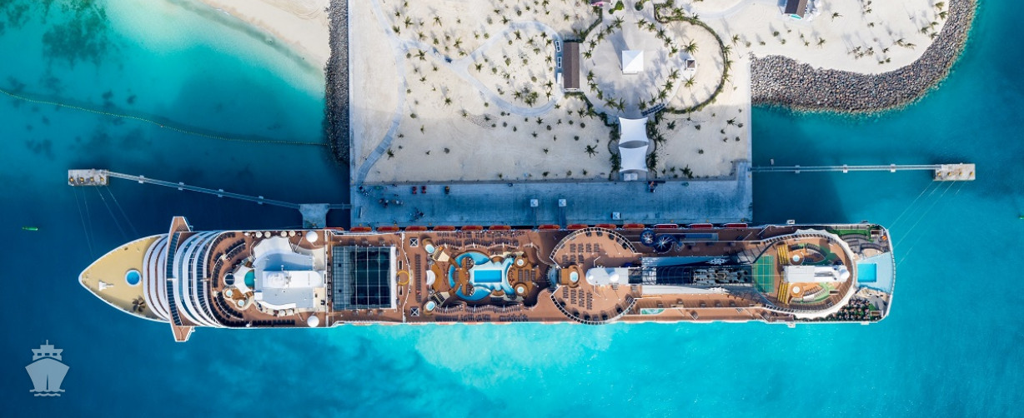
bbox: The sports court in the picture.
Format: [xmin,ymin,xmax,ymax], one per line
[752,256,777,294]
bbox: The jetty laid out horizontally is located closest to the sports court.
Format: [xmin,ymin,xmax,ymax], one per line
[351,161,750,226]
